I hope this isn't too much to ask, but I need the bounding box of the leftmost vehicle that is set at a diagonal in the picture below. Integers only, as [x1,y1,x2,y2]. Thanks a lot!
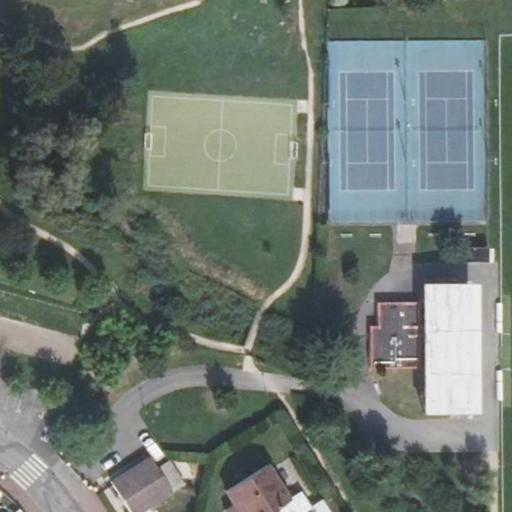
[100,454,121,473]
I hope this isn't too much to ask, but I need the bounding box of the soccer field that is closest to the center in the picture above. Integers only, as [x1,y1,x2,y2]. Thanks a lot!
[144,92,297,198]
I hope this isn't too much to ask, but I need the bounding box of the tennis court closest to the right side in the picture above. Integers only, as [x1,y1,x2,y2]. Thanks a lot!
[406,40,486,222]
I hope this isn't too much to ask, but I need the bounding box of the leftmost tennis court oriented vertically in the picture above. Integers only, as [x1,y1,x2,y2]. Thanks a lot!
[328,40,406,222]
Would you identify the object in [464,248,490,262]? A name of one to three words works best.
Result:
shed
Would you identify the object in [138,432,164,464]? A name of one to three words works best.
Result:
vehicle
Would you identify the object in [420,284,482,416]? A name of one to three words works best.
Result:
building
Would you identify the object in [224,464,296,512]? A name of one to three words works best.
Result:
house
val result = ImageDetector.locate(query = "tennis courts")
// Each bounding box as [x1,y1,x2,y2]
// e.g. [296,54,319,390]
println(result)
[406,40,486,222]
[328,40,406,222]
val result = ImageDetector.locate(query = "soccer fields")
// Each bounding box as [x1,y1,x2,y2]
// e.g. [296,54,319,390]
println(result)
[144,92,297,198]
[501,36,512,512]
